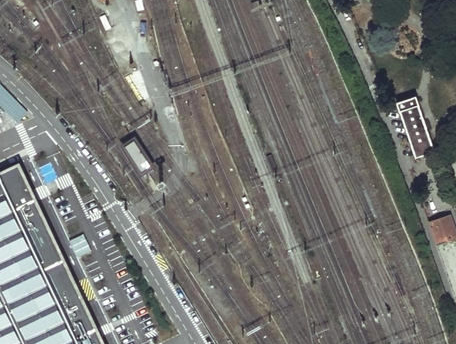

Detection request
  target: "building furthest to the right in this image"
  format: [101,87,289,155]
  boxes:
[429,216,456,244]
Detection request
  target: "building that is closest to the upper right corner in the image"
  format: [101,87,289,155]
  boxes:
[397,97,434,160]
